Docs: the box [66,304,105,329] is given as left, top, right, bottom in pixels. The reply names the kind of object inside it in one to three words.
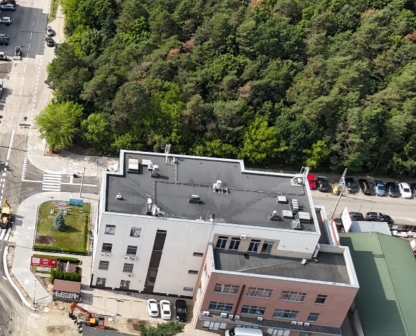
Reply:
work vehicle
